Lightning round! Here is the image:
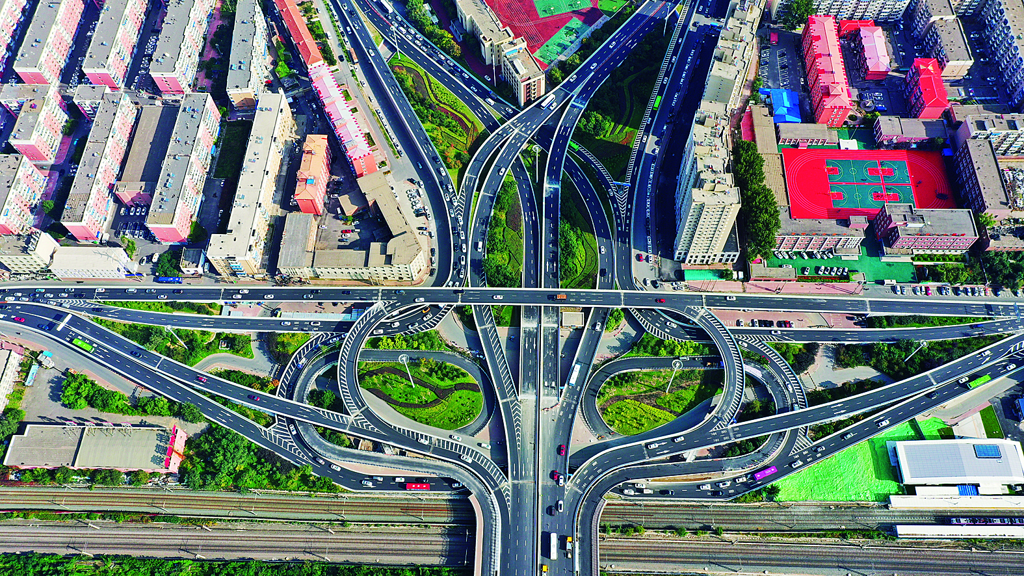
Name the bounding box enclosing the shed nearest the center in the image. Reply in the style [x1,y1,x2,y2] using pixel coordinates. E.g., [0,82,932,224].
[561,312,584,330]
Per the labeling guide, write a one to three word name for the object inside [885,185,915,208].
basketball court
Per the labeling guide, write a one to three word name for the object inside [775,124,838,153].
building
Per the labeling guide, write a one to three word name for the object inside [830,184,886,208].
basketball court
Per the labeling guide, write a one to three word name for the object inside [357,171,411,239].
building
